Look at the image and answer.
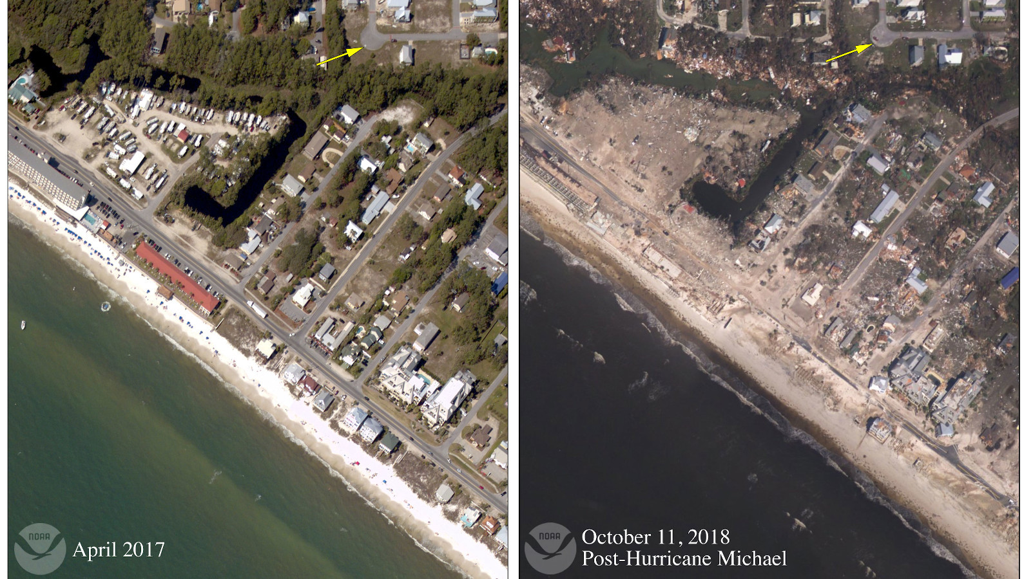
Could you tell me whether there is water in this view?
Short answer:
Yes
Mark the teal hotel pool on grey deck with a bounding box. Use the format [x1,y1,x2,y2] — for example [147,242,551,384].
[79,209,104,233]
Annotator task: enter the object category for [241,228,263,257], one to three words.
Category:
house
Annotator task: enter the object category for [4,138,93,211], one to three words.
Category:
building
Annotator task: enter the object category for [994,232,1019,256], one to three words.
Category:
house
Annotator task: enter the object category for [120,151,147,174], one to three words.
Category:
building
